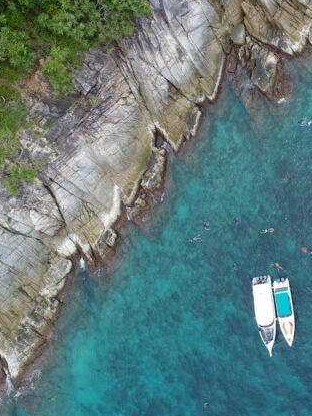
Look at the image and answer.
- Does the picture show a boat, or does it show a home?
boat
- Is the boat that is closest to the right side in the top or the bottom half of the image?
bottom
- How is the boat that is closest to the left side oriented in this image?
up and down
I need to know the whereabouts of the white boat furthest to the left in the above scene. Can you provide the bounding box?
[253,276,278,357]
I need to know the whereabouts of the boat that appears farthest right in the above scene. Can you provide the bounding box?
[274,278,294,346]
